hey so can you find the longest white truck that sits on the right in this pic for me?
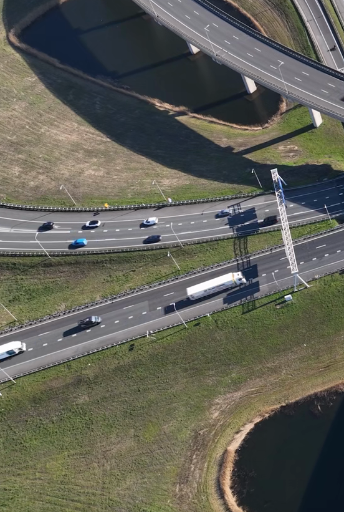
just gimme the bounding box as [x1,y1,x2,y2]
[184,272,247,300]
